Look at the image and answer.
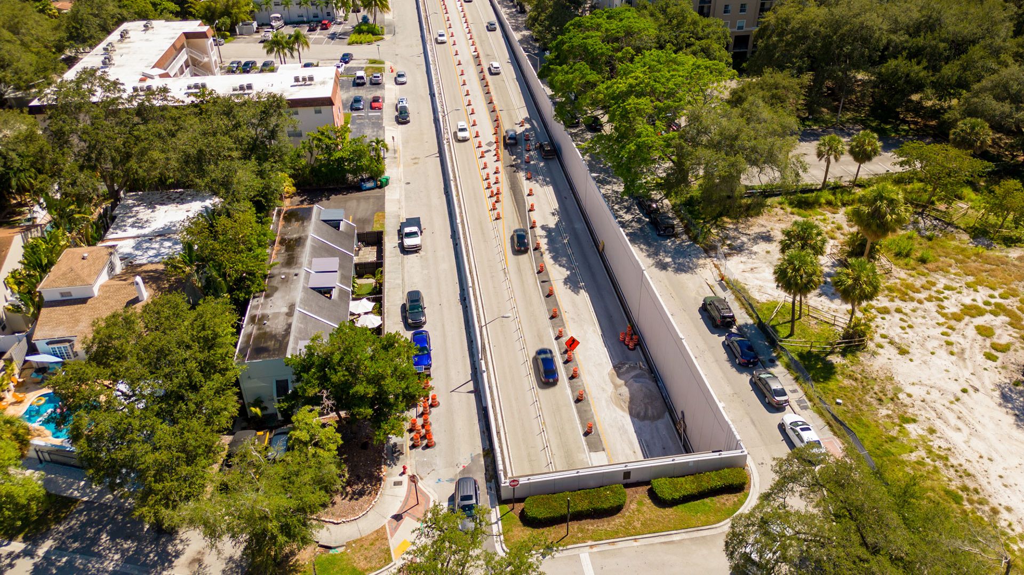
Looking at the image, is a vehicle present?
Yes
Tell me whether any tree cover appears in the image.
Yes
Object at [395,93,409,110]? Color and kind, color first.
white vehicle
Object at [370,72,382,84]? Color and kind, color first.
gray vehicle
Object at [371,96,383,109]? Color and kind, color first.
red vehicle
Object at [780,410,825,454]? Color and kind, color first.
white car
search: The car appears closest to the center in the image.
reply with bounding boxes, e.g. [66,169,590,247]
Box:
[511,229,531,254]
